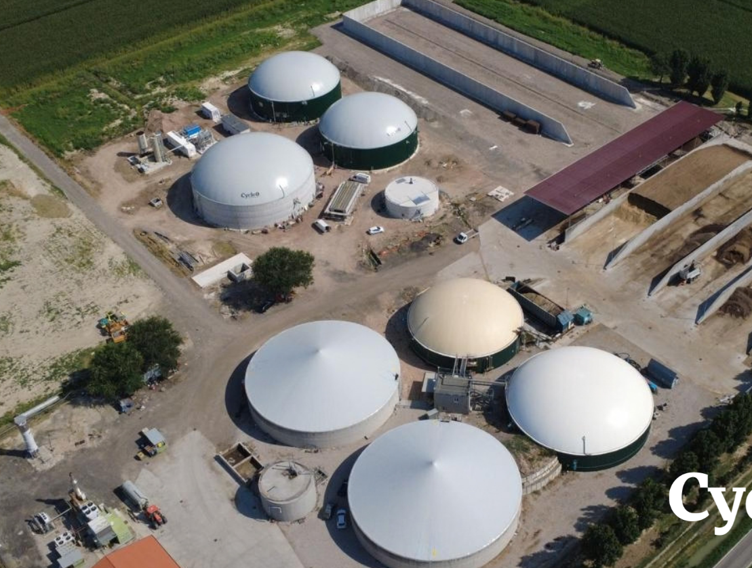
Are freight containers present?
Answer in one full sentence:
Yes, the photo shows a freight container.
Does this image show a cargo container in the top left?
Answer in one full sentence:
Yes, you'll find a cargo container in the top left.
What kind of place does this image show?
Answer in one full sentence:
This looks like an industrial area.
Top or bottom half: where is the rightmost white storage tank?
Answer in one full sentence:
The rightmost white storage tank is in the bottom half of the image.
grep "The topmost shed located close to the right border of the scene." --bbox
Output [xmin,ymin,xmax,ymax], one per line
[523,100,725,229]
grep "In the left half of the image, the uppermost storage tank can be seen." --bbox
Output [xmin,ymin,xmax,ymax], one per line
[248,50,347,123]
